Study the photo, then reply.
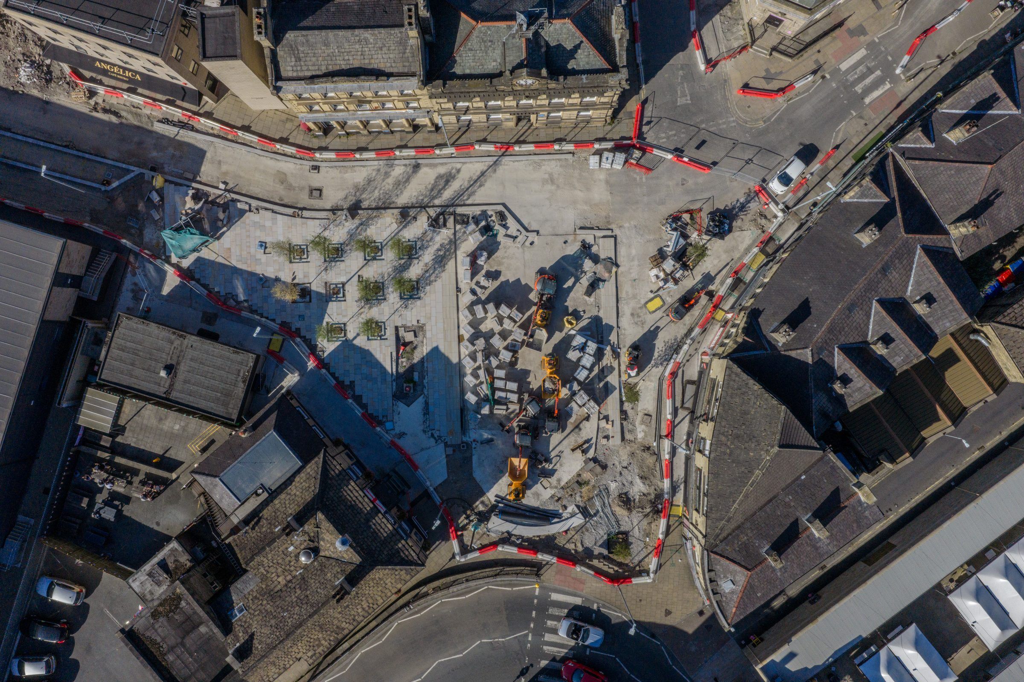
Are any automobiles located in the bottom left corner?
Yes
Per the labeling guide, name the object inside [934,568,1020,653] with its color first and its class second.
white tent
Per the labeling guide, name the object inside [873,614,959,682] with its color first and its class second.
white tent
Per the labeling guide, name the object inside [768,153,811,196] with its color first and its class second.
white car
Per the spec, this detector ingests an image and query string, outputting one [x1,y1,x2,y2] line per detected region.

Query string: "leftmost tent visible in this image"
[158,213,217,257]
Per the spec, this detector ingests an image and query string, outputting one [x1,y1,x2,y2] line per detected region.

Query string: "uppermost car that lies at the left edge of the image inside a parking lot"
[37,574,88,605]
